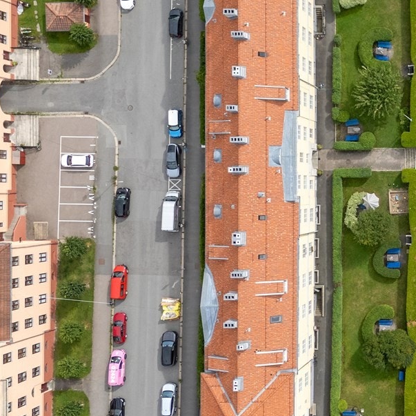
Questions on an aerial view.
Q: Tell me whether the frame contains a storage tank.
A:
No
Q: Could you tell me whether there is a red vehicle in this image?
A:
Yes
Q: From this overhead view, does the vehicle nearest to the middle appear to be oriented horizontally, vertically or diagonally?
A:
vertically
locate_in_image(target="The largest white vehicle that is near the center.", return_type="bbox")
[162,192,182,232]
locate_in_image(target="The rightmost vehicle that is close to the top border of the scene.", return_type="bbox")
[168,9,184,39]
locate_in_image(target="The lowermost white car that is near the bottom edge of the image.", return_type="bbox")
[161,383,178,416]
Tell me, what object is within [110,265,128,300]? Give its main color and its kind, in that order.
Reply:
red car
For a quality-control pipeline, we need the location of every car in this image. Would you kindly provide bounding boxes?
[168,110,183,137]
[168,9,184,39]
[122,0,136,9]
[161,383,178,416]
[165,144,182,177]
[114,189,131,217]
[110,265,128,300]
[109,398,127,416]
[163,331,179,365]
[108,349,126,386]
[112,313,129,343]
[63,154,94,169]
